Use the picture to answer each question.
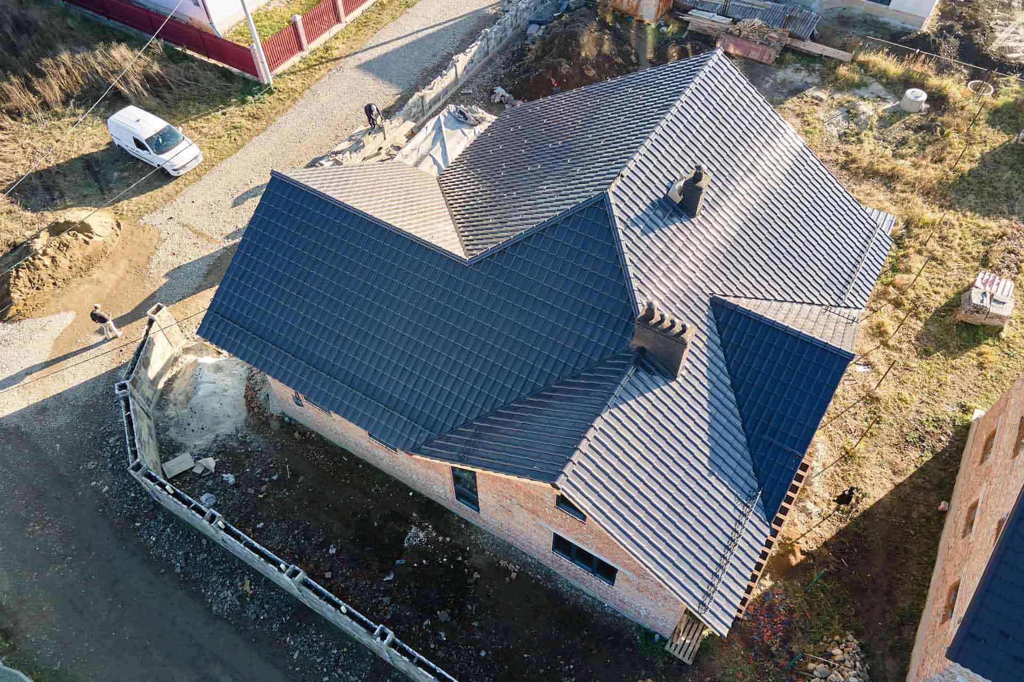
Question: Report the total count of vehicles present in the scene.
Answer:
1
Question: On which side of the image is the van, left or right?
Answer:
left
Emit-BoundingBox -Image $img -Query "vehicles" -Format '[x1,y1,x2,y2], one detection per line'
[107,110,200,179]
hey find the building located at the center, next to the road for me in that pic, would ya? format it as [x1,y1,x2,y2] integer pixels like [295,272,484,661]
[196,43,896,640]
